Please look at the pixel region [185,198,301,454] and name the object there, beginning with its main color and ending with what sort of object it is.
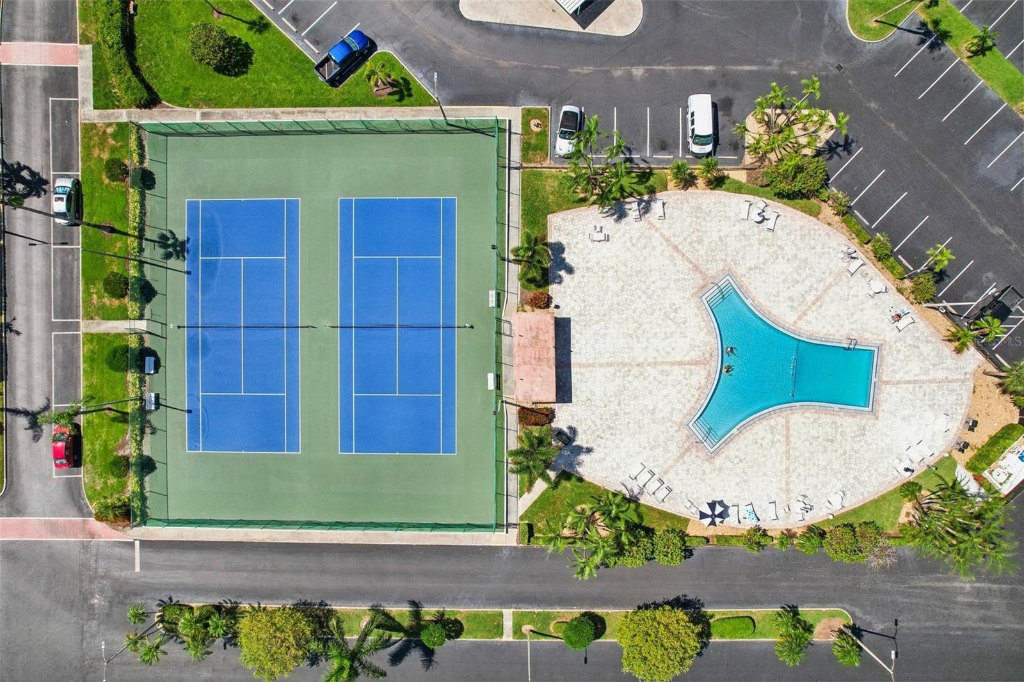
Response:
blue tennis court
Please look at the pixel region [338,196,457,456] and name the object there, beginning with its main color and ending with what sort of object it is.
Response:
blue tennis court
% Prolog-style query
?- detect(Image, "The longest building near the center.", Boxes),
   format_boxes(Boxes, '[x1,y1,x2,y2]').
[514,313,556,406]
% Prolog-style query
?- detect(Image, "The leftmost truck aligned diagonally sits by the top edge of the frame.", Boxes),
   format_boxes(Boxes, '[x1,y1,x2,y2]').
[316,28,376,84]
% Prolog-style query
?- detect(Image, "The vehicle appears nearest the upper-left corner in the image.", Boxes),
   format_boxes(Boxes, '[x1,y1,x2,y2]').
[48,175,77,224]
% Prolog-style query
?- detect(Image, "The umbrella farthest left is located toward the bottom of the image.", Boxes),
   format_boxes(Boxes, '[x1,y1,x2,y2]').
[698,499,726,527]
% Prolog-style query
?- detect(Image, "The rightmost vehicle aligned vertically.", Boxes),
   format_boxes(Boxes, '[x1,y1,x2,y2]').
[688,95,718,159]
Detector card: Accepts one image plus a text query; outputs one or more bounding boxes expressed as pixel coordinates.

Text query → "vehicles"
[556,104,581,156]
[962,276,1023,330]
[48,175,77,224]
[316,28,376,84]
[47,422,75,471]
[688,95,718,159]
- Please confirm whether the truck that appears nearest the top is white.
No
